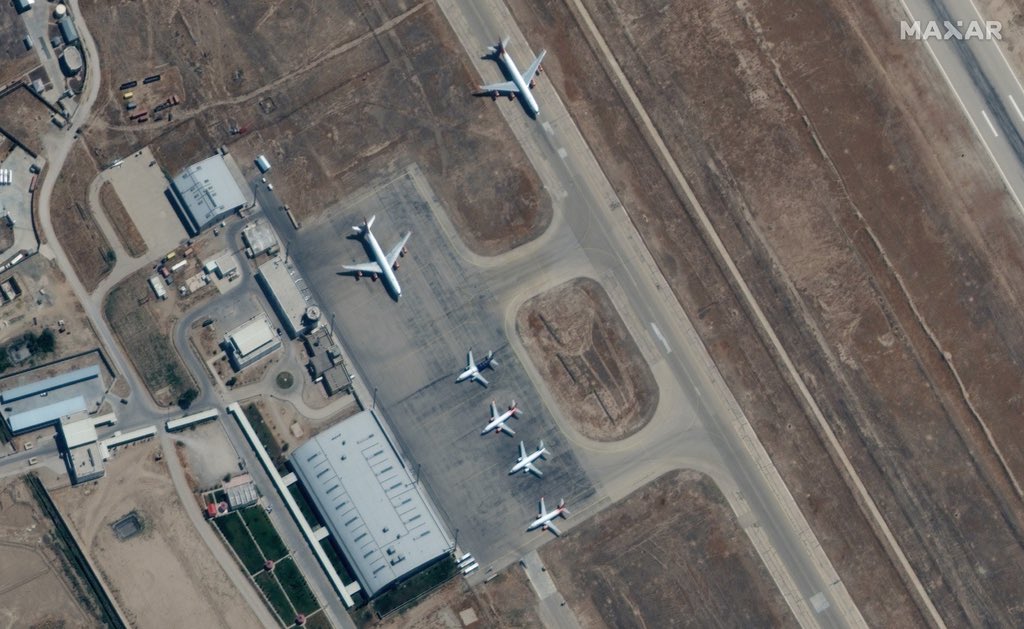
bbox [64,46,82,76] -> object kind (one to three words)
building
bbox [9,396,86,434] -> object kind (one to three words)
shed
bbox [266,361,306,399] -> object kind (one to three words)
roundabout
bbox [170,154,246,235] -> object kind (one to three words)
hangar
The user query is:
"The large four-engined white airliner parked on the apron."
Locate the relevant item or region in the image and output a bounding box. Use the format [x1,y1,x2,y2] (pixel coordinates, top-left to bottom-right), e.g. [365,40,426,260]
[343,216,411,298]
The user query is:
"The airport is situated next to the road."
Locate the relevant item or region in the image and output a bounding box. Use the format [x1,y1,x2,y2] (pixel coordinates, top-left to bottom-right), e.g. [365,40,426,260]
[286,0,1024,629]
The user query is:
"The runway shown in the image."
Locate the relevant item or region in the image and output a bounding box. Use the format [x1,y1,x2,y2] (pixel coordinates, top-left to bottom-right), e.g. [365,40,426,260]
[899,0,1024,218]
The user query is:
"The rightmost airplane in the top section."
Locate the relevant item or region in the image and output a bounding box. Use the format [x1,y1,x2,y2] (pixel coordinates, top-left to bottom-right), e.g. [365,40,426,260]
[479,35,546,116]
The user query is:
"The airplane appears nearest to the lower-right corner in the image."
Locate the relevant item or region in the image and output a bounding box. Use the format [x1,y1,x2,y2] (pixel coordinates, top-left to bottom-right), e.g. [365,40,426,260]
[530,500,570,532]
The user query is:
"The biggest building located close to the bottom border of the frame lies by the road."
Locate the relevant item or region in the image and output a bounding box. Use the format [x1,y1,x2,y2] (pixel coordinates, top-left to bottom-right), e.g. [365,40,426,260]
[291,410,453,602]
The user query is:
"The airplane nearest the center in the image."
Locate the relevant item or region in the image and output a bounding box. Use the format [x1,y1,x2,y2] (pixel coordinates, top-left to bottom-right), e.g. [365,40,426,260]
[457,349,497,384]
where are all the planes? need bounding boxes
[510,442,550,474]
[343,216,411,298]
[457,349,497,384]
[479,35,546,116]
[483,400,522,432]
[530,500,570,532]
